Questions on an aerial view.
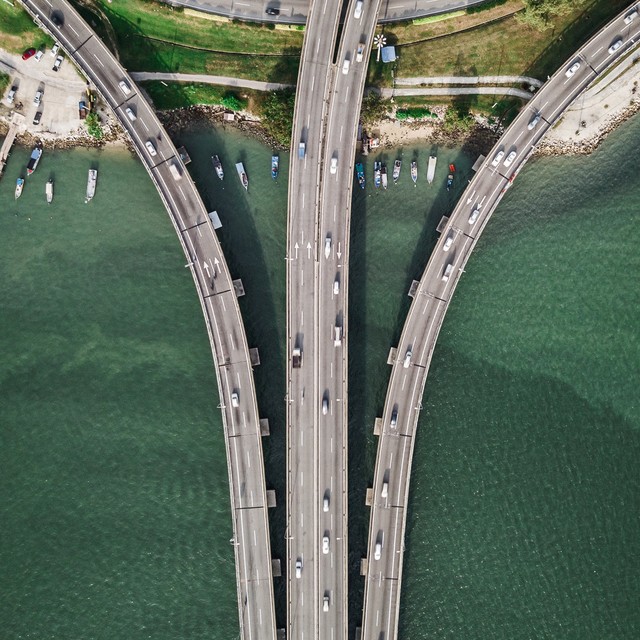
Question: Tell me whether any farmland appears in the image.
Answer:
No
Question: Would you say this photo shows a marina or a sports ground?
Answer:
marina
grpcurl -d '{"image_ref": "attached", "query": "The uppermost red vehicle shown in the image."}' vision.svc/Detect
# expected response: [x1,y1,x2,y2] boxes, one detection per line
[21,47,38,61]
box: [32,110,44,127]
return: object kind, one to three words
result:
vehicle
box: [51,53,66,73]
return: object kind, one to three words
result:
vehicle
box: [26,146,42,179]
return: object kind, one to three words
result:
boat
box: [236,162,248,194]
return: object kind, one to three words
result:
boat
